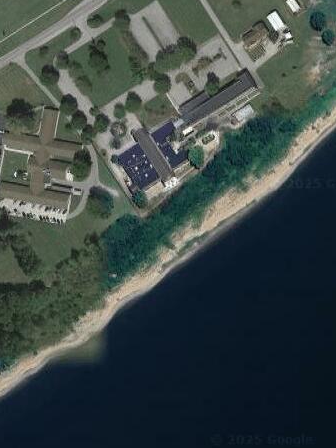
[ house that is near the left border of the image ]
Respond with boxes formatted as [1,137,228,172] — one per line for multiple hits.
[0,108,82,207]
